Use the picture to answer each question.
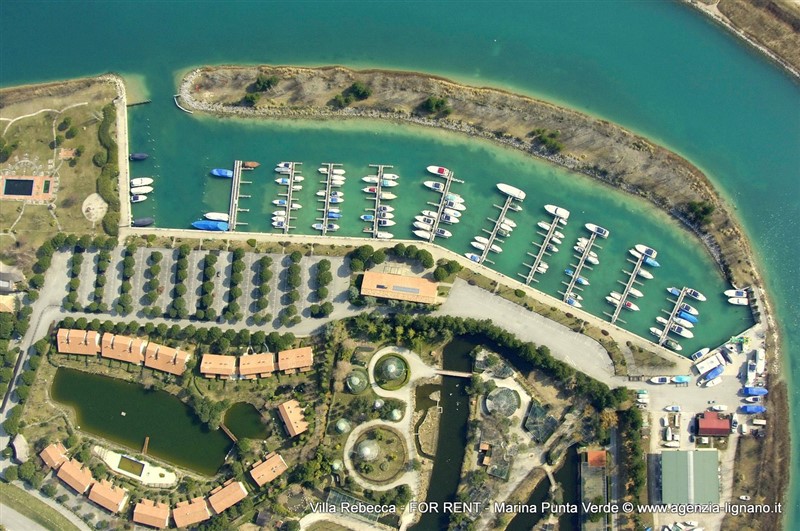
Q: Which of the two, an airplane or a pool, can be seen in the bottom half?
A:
pool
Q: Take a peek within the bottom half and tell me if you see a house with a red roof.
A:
Yes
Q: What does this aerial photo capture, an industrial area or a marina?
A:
marina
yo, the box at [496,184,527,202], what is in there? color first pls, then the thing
white boat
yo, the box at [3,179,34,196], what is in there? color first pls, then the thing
black swimming pool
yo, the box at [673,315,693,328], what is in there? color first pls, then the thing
white boat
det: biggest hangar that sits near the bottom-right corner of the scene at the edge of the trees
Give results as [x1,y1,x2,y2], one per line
[658,447,719,504]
